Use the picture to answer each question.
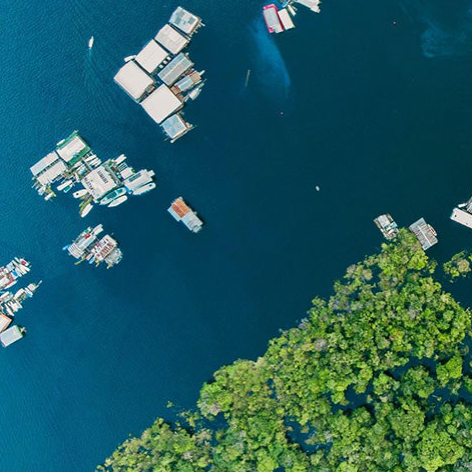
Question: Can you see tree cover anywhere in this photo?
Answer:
Yes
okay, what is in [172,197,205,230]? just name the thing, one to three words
house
